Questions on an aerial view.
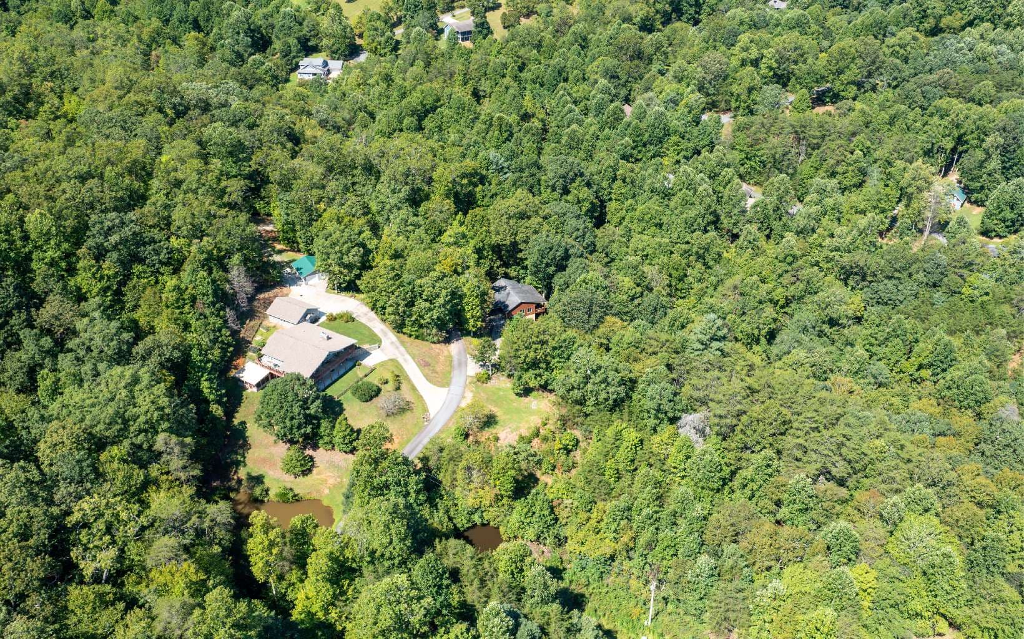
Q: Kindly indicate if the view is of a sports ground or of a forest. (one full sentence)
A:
The area seen from above is a forest.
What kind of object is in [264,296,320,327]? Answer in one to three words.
building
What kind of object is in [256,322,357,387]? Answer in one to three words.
house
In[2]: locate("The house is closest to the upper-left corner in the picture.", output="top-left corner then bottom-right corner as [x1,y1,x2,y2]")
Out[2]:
[295,53,348,76]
